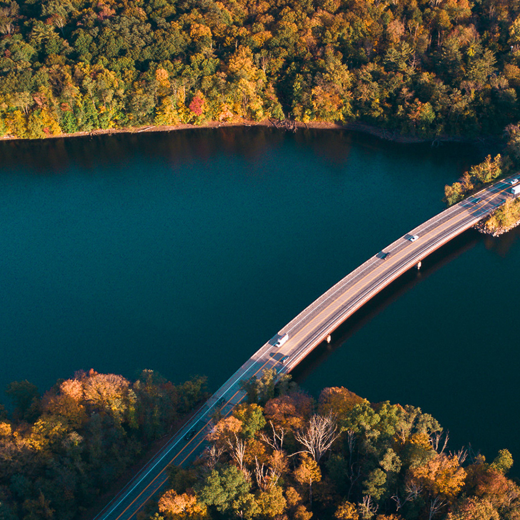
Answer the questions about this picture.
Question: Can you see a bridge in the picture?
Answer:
Yes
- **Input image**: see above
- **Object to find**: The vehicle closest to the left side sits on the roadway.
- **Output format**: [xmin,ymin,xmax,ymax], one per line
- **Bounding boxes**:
[184,426,198,440]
